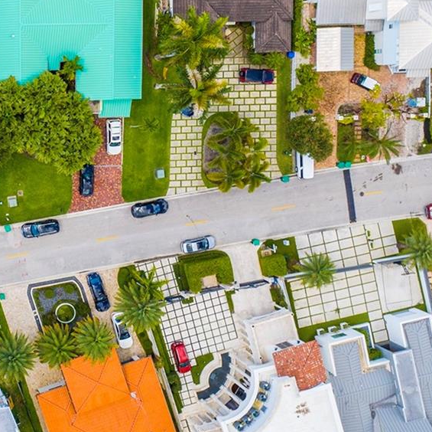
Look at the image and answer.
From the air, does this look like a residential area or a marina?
residential area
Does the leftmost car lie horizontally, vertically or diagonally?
horizontally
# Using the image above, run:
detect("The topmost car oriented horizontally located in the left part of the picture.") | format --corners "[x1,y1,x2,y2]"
[130,200,171,219]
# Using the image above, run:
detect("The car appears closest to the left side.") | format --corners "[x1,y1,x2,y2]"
[22,220,61,241]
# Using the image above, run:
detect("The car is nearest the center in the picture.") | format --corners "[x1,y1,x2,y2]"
[181,236,218,255]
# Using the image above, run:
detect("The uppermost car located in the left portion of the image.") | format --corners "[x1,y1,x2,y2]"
[107,118,124,156]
